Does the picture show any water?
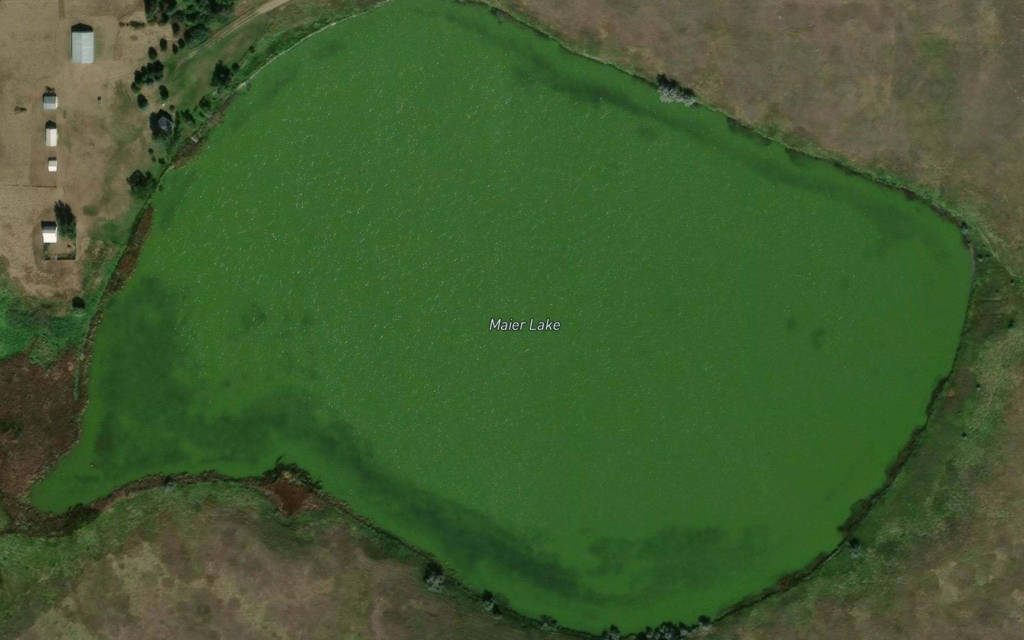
Yes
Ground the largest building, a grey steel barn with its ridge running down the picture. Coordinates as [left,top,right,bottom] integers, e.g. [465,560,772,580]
[71,32,95,64]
